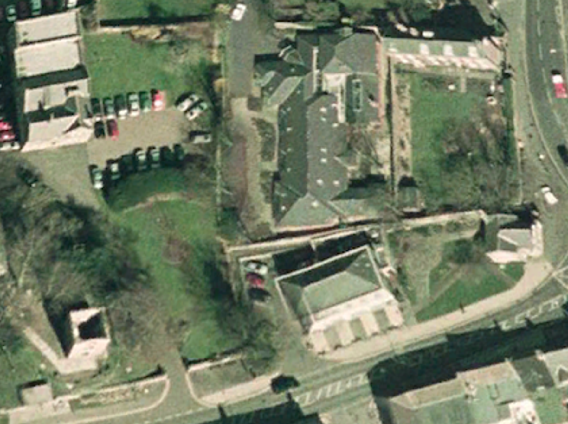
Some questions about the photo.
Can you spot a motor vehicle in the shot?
Yes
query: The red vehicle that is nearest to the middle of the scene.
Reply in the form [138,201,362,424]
[244,273,266,286]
